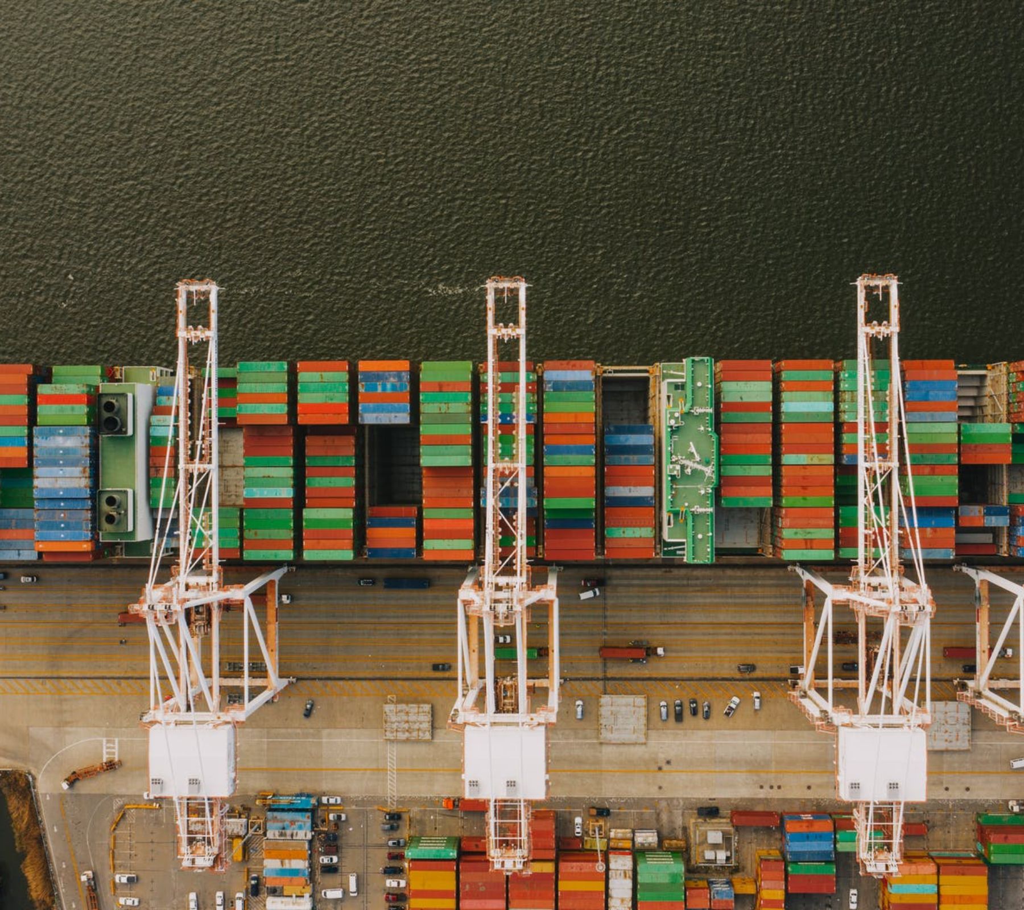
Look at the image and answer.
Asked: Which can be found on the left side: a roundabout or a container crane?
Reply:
container crane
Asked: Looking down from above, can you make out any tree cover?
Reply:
No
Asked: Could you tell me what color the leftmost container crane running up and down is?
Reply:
white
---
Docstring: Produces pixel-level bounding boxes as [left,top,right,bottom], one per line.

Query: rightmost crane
[954,570,1024,738]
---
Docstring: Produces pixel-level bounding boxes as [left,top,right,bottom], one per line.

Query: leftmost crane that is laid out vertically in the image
[129,275,293,872]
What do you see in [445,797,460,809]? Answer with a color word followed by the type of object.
orange vehicle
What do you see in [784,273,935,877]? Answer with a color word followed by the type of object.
white container crane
